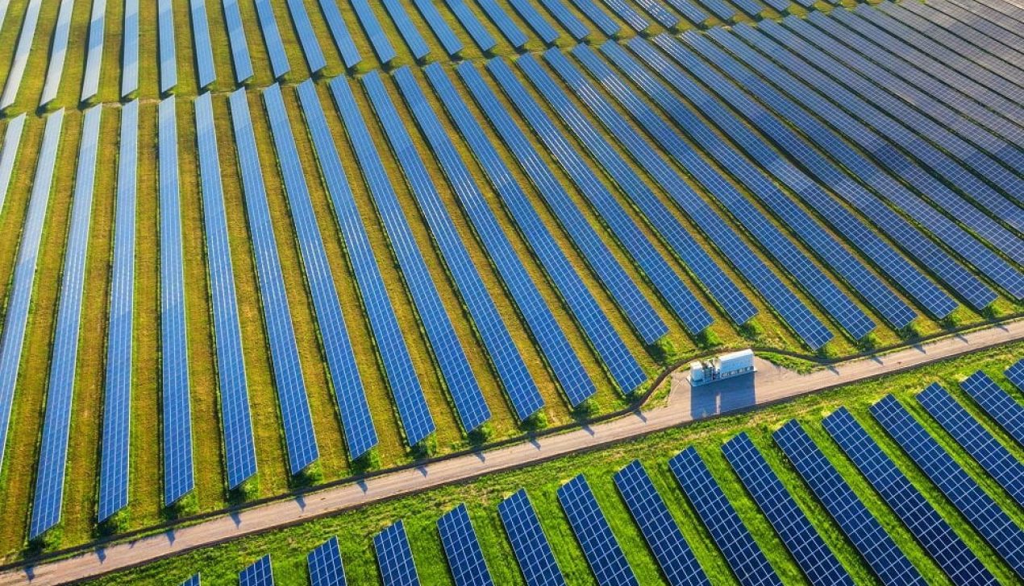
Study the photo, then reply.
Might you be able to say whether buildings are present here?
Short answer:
Yes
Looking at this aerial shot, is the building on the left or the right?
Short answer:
right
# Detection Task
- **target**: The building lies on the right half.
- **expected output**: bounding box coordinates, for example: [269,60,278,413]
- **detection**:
[683,351,757,386]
